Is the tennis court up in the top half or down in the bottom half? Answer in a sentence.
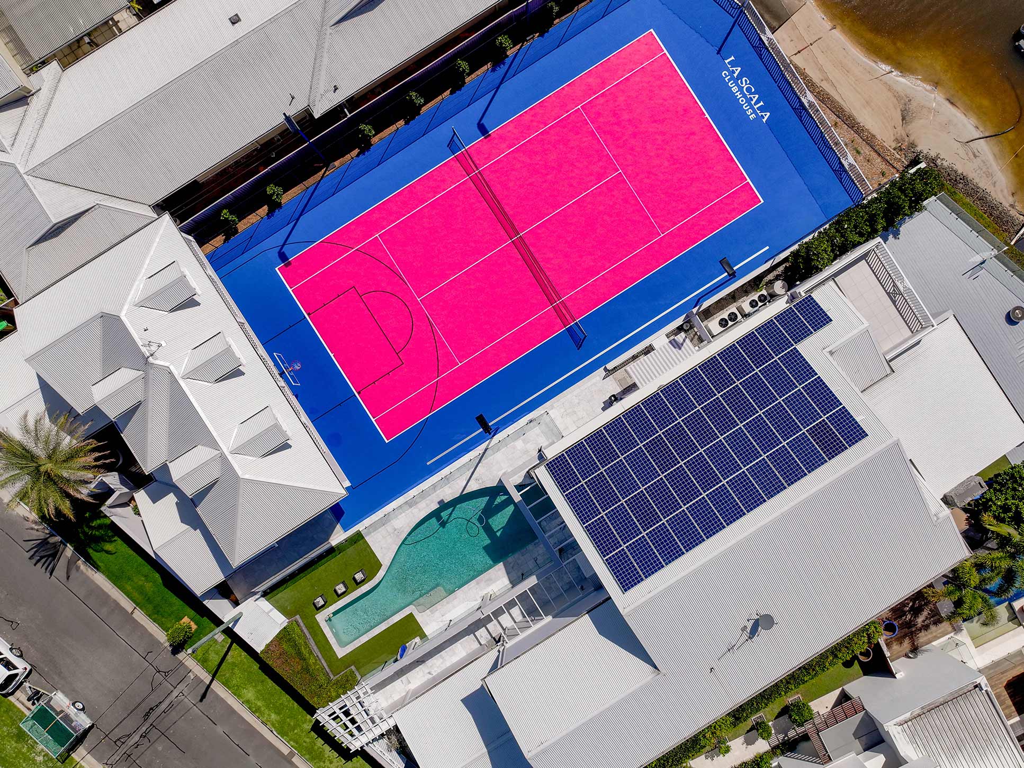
The tennis court sits in the top half of the picture.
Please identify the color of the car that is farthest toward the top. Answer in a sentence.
From above, the car that is farthest toward the top appears white.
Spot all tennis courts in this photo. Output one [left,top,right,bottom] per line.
[207,0,863,531]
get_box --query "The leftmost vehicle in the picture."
[0,642,28,696]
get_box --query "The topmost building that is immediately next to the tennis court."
[0,0,524,303]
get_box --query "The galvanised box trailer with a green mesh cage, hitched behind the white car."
[19,679,95,758]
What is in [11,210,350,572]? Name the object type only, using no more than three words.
house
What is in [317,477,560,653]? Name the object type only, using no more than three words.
swimming pool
